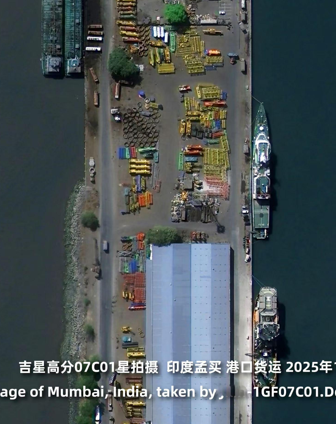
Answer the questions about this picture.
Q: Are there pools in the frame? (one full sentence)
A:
No, no pool is visible in the view.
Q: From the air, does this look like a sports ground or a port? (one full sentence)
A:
What you see here is a port.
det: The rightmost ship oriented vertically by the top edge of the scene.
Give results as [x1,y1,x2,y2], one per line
[65,0,81,76]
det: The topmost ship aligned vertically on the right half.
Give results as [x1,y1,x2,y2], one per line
[252,102,270,238]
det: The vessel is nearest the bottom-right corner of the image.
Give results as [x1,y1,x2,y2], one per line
[253,287,280,386]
